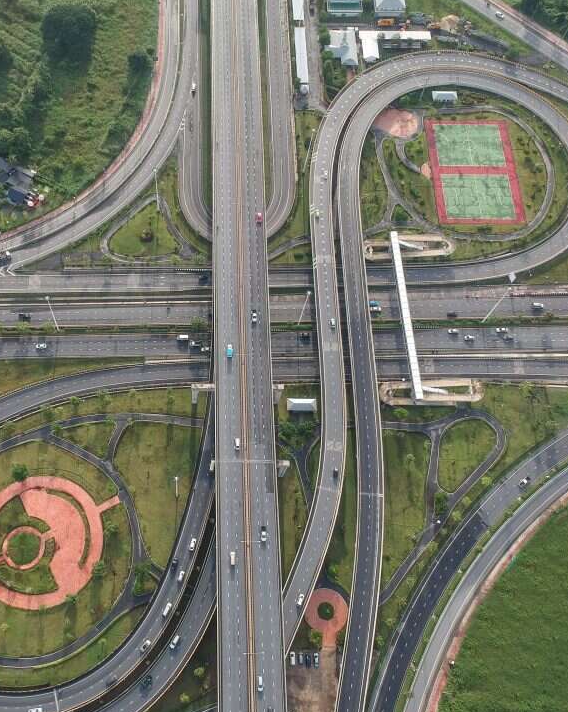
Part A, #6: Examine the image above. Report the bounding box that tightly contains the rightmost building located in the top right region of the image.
[431,91,457,105]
